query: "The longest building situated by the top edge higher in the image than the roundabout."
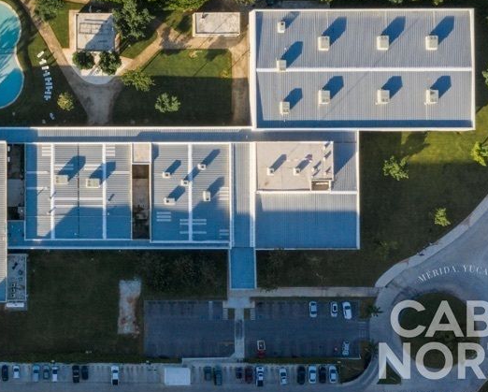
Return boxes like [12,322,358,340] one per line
[245,8,475,132]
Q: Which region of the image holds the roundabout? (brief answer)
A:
bottom right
